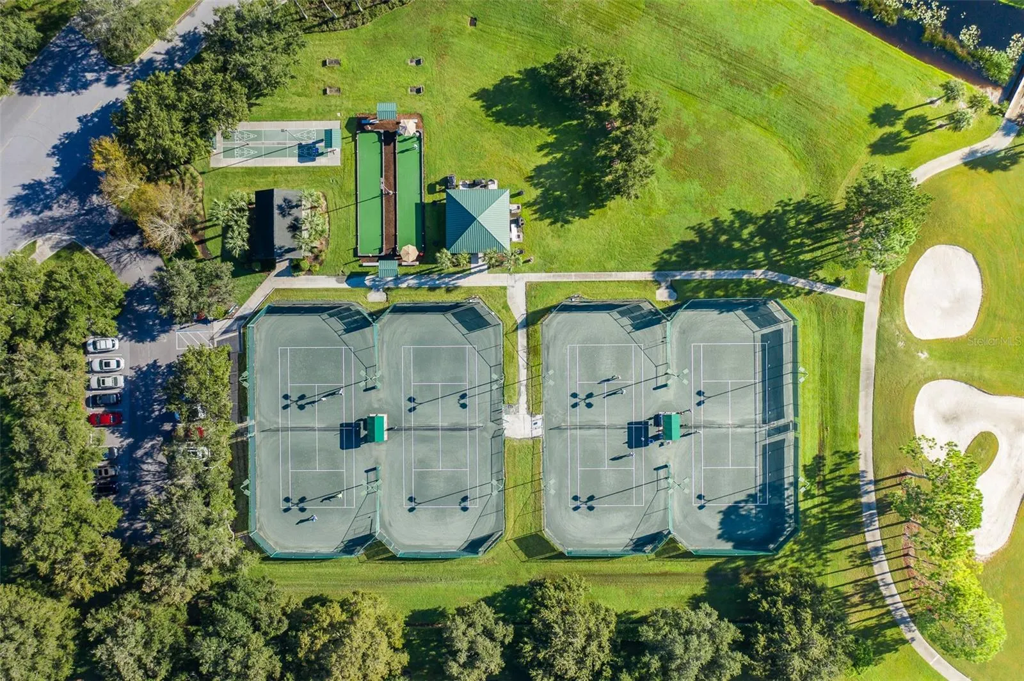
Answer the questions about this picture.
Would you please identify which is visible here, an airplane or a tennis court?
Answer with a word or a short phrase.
tennis court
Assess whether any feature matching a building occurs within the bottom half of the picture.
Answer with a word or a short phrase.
No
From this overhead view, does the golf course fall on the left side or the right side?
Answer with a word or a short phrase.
right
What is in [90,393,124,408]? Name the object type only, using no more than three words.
car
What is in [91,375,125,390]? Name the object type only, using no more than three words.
car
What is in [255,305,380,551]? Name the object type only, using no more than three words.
tennis court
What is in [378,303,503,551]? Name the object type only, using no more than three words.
tennis court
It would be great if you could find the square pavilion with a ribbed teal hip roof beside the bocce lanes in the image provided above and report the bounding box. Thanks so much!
[446,188,511,253]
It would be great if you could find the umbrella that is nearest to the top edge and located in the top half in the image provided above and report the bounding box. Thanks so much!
[398,118,418,138]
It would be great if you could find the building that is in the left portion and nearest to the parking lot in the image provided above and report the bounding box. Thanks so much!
[255,186,304,259]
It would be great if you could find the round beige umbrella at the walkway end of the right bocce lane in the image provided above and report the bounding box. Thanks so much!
[401,245,419,263]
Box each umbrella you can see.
[398,118,418,138]
[401,245,419,263]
